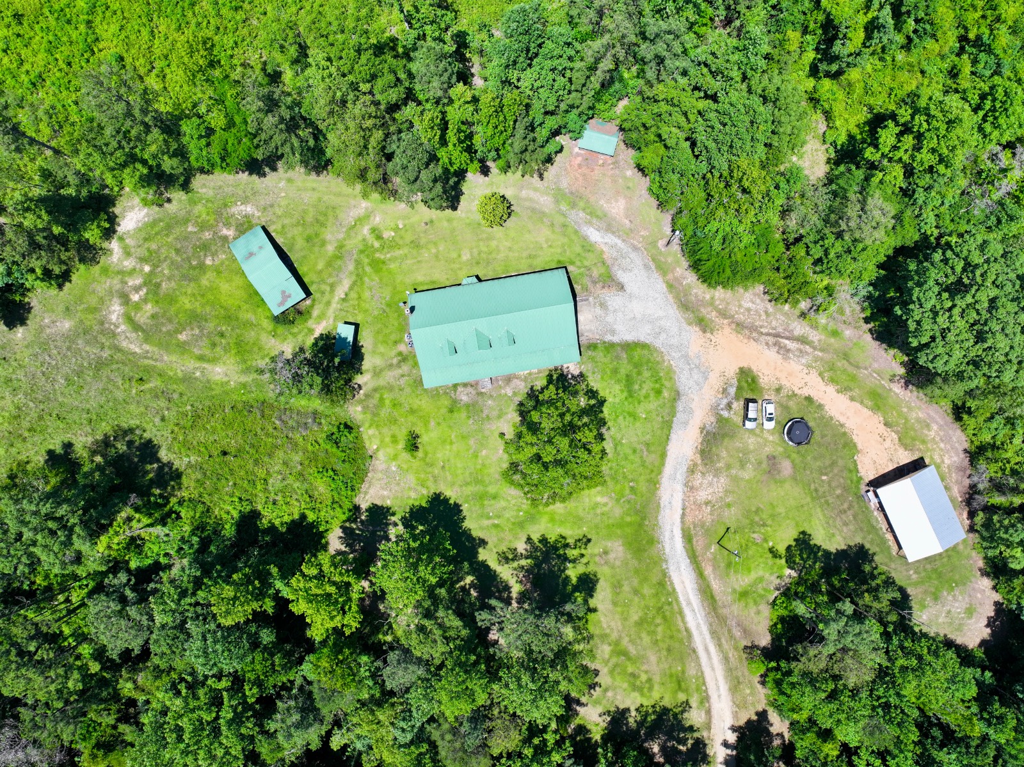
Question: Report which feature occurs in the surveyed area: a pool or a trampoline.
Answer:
trampoline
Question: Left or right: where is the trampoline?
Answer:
right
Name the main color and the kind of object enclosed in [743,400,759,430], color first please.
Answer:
white car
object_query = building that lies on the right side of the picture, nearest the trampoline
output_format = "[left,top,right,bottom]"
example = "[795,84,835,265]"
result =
[866,463,966,563]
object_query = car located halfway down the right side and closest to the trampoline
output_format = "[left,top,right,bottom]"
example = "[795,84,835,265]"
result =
[762,400,776,429]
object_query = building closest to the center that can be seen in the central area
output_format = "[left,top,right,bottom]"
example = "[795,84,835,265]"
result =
[403,266,581,389]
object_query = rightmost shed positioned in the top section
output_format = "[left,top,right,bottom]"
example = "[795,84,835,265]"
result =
[580,121,620,159]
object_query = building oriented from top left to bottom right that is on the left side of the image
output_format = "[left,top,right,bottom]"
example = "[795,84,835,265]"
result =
[229,225,310,316]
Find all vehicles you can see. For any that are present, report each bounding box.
[762,400,776,429]
[743,400,759,430]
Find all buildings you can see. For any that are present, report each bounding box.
[866,463,966,563]
[580,121,620,159]
[336,323,357,360]
[229,225,310,316]
[403,266,581,389]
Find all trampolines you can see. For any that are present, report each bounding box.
[782,419,816,446]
